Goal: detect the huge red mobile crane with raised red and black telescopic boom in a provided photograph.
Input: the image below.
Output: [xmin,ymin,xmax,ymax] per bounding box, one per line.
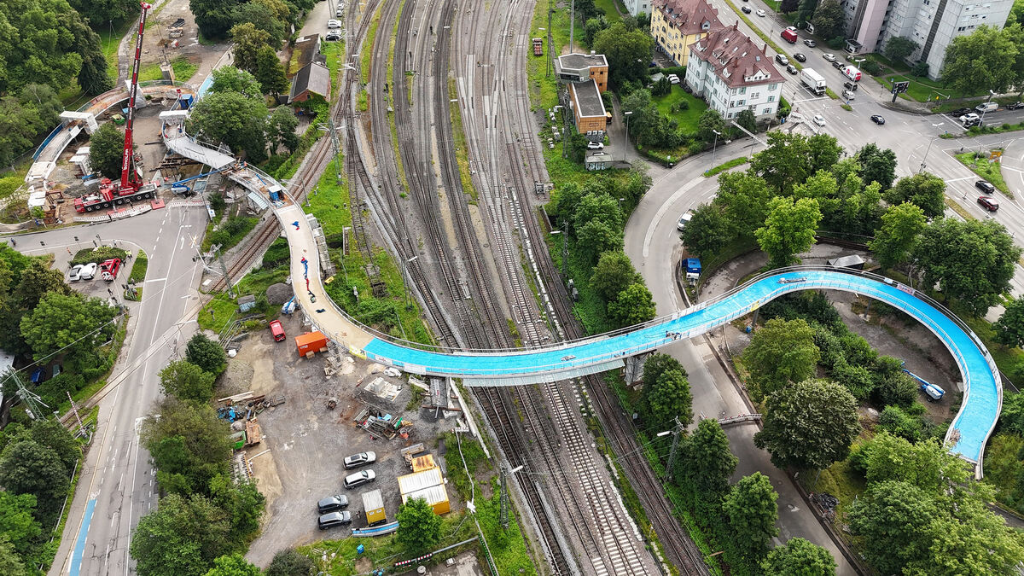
[68,0,162,219]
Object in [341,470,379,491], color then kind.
white car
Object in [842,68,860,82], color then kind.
white vehicle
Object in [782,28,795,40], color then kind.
red vehicle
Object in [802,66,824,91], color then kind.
white truck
